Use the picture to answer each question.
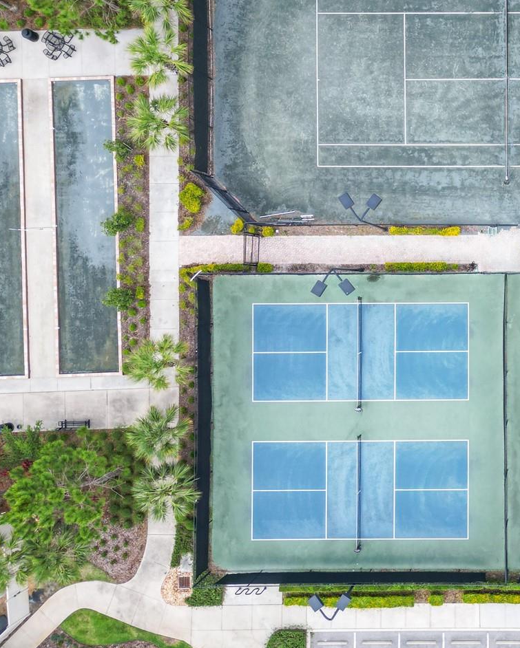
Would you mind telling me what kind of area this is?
sports ground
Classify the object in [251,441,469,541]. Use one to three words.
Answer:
sports court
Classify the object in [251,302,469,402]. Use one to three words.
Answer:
sports court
